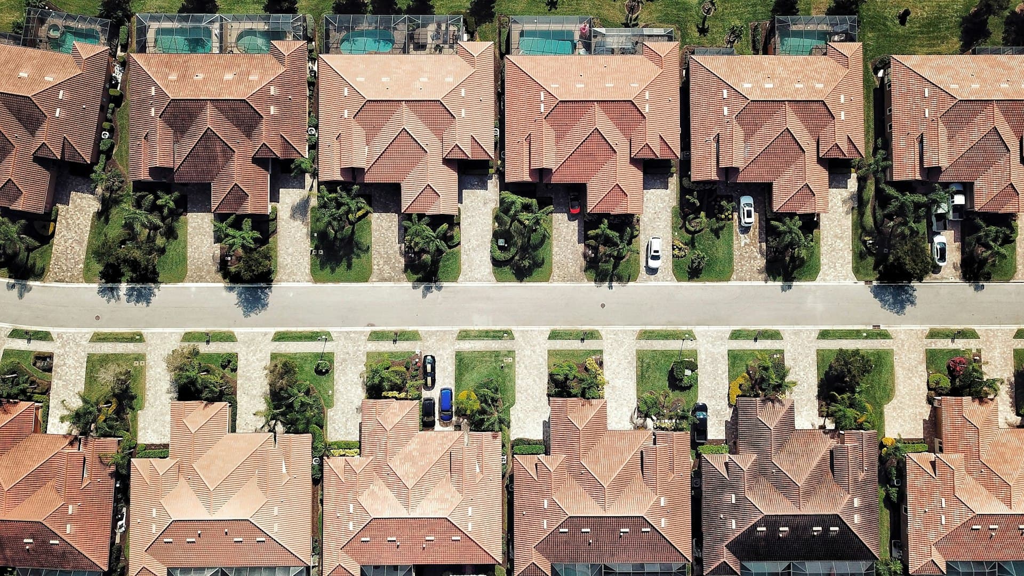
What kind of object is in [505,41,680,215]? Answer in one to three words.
house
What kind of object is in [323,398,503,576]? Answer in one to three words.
house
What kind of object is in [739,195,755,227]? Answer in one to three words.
car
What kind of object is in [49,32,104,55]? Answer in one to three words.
swimming pool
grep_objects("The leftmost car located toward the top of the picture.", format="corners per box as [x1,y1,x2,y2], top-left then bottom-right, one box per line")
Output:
[567,188,582,217]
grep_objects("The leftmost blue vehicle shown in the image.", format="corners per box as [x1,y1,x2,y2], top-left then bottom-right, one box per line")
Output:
[438,388,453,422]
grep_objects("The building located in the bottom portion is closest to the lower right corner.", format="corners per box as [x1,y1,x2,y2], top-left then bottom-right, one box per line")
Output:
[899,396,1024,575]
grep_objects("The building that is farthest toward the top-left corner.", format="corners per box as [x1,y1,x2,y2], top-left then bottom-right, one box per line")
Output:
[0,41,116,215]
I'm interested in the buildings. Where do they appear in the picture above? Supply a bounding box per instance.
[323,398,503,576]
[513,397,692,576]
[0,41,116,215]
[884,49,1024,213]
[899,396,1024,575]
[505,41,680,215]
[129,400,313,576]
[128,40,308,215]
[700,396,881,576]
[318,41,495,215]
[689,42,865,214]
[0,398,123,571]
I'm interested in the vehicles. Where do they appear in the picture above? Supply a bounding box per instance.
[421,397,436,428]
[930,235,948,267]
[647,236,662,268]
[421,354,436,388]
[739,195,755,227]
[693,401,709,442]
[438,388,453,422]
[567,188,582,217]
[932,196,950,233]
[947,183,967,220]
